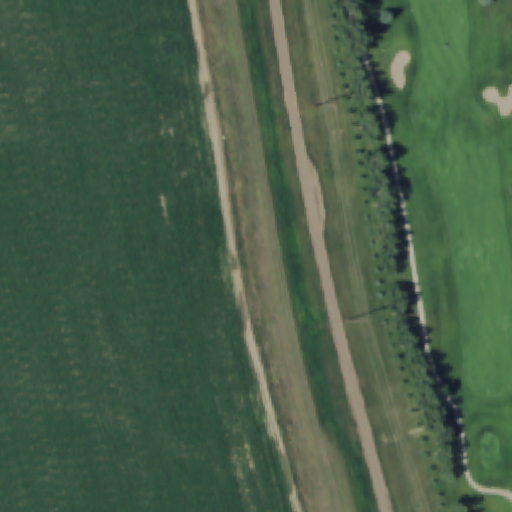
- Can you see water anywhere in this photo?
No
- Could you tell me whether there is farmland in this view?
Yes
